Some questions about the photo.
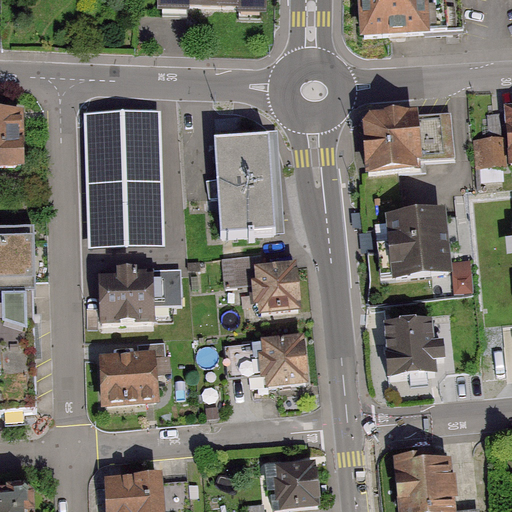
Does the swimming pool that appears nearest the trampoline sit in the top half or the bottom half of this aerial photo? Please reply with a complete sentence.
Seen from above, the swimming pool that appears nearest the trampoline lies in the bottom half of the view.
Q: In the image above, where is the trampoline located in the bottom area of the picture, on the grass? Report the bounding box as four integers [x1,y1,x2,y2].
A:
[220,310,240,330]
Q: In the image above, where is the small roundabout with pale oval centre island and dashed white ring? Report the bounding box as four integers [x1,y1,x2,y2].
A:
[268,47,358,134]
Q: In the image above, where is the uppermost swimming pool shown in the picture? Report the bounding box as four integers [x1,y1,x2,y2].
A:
[196,346,219,370]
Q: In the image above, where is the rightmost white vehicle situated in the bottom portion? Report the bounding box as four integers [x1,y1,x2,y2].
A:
[494,348,506,380]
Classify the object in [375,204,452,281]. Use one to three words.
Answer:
house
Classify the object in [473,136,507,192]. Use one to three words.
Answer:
shed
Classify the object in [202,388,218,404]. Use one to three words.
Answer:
umbrella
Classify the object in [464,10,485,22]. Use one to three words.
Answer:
vehicle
